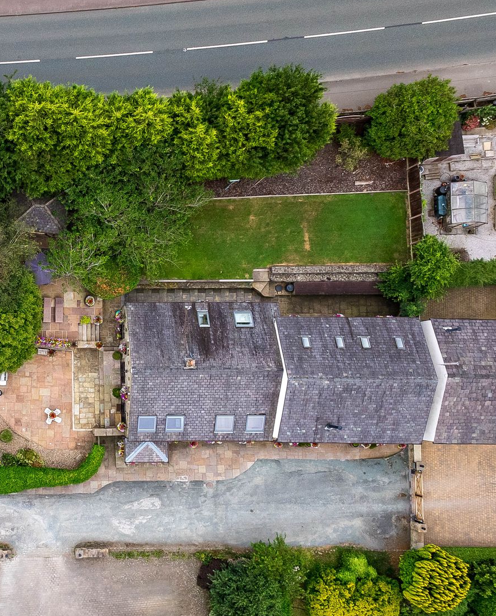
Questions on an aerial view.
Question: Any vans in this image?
No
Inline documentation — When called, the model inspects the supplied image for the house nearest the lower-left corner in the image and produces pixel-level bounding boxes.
[115,300,286,465]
